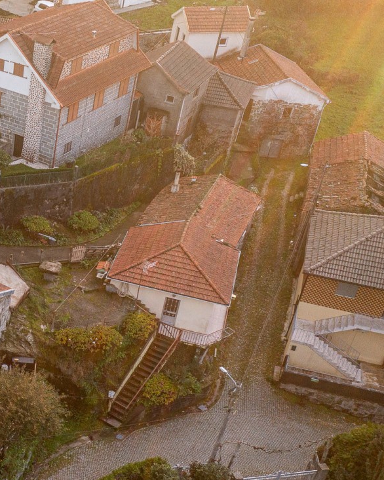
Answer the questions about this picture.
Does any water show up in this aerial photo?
No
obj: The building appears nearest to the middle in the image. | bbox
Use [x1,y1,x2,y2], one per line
[106,160,261,362]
